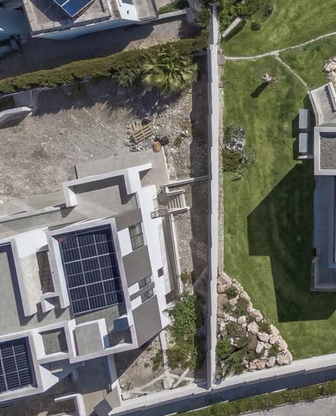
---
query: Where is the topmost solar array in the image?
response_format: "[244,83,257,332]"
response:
[59,229,126,316]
